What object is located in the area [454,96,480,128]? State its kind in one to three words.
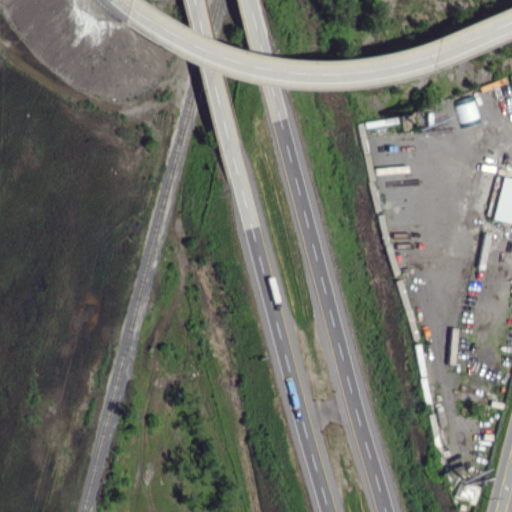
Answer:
barn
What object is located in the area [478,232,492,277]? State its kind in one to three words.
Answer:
vehicle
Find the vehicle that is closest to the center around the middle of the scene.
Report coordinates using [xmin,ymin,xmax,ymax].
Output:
[269,276,282,310]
